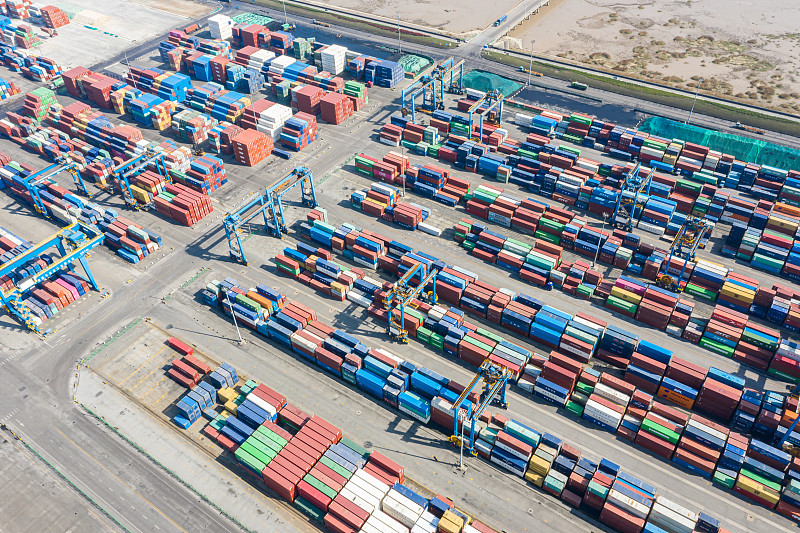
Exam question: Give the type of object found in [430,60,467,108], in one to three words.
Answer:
container crane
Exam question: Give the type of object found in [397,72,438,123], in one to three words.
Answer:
container crane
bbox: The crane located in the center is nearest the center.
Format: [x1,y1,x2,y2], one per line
[382,260,445,345]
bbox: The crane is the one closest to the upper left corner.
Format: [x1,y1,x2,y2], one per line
[20,153,91,217]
